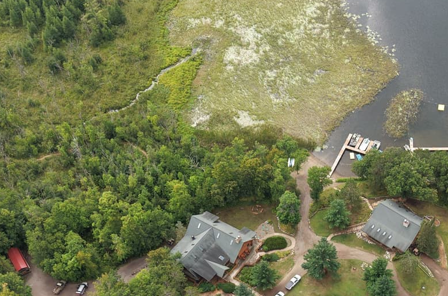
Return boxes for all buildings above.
[9,248,33,279]
[362,199,428,256]
[169,211,264,286]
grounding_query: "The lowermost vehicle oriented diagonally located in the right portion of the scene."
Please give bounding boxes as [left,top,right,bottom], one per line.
[285,274,302,291]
